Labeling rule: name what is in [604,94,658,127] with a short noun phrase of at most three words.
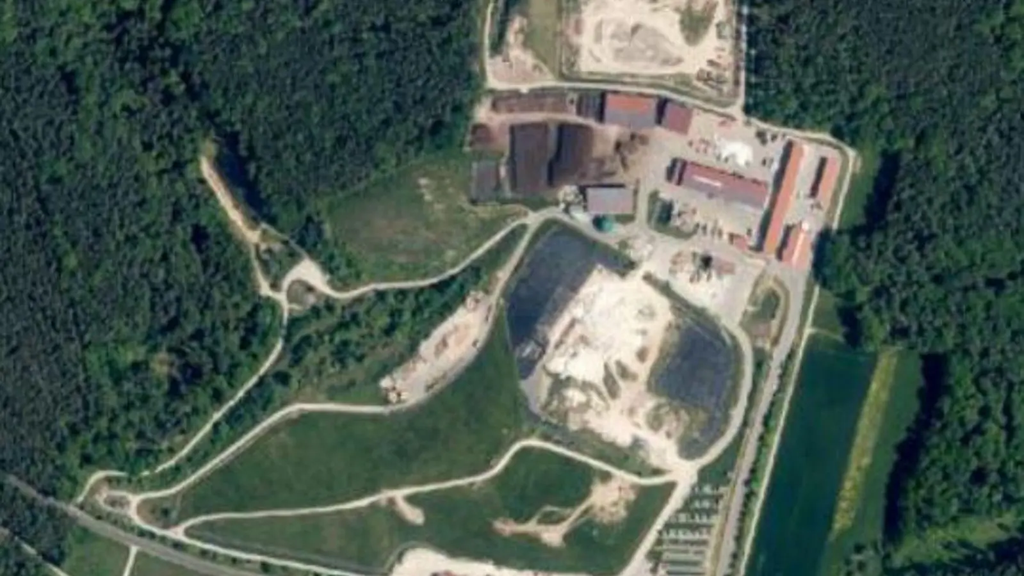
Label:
building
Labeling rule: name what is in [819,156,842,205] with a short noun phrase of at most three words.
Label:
barn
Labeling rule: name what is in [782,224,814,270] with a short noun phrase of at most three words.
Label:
house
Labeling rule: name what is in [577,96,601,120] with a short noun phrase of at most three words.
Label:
shed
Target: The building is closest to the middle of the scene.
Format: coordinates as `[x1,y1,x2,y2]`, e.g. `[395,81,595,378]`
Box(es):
[587,186,635,213]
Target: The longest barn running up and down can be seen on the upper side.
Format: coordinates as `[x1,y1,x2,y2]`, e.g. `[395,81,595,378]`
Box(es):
[763,140,807,257]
